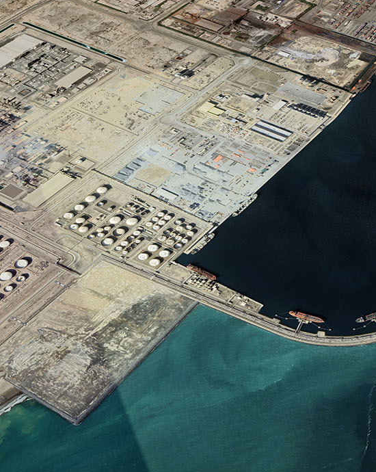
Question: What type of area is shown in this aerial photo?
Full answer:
It's a port.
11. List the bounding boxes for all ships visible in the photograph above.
[190,232,215,255]
[288,309,324,323]
[355,312,376,322]
[231,193,258,217]
[188,262,217,280]
[360,80,373,93]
